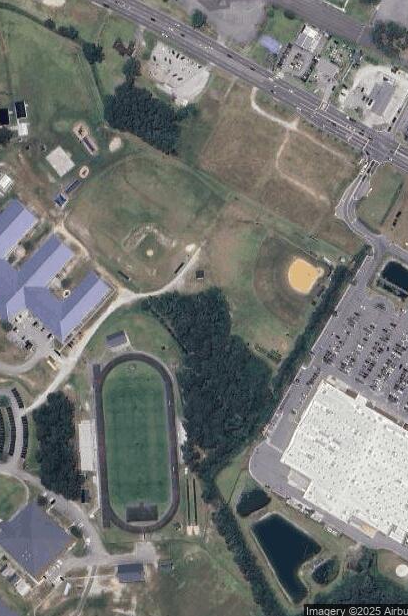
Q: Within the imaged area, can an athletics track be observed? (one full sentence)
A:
Yes, this view includes an athletics track.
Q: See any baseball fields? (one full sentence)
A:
Yes, the photo shows a baseball field.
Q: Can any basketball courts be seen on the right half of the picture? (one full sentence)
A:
No, I can find no basketball court on the right half of the picture.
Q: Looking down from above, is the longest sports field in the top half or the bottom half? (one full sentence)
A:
The bottom half of the photo is where the longest sports field is.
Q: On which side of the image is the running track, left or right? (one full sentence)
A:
You can find the running track on the left side of the picture.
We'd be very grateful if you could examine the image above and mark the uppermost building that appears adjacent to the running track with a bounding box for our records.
[0,200,113,339]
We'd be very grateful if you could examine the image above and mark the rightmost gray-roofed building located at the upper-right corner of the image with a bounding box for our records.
[370,82,396,116]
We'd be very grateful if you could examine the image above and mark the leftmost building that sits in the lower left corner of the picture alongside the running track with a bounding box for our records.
[0,500,76,578]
